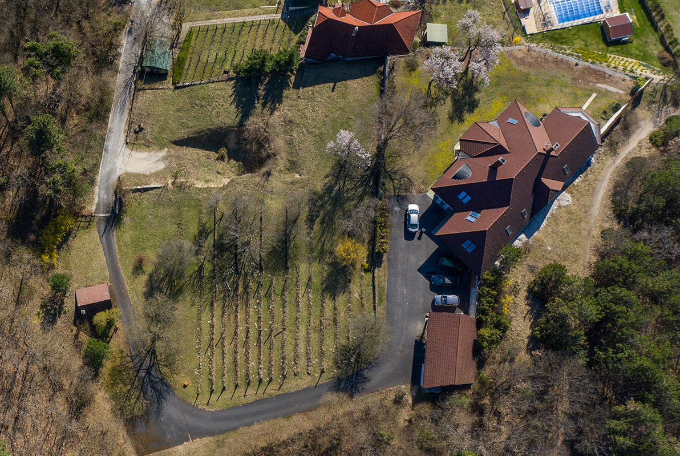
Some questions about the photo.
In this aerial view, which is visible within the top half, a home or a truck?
home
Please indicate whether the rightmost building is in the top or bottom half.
top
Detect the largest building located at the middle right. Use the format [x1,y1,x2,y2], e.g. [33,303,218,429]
[430,100,601,277]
